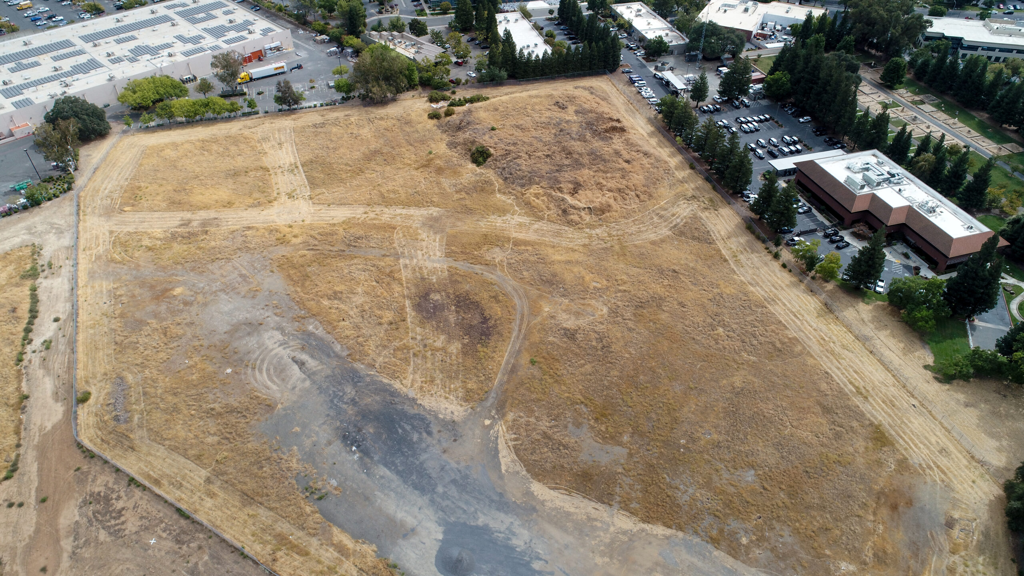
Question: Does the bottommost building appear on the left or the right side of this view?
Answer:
right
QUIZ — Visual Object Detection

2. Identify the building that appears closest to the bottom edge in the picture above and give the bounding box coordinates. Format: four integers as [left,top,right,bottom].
[794,149,1006,268]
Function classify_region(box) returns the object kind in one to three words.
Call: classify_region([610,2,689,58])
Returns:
building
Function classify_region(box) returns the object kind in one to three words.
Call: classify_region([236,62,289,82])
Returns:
vehicle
